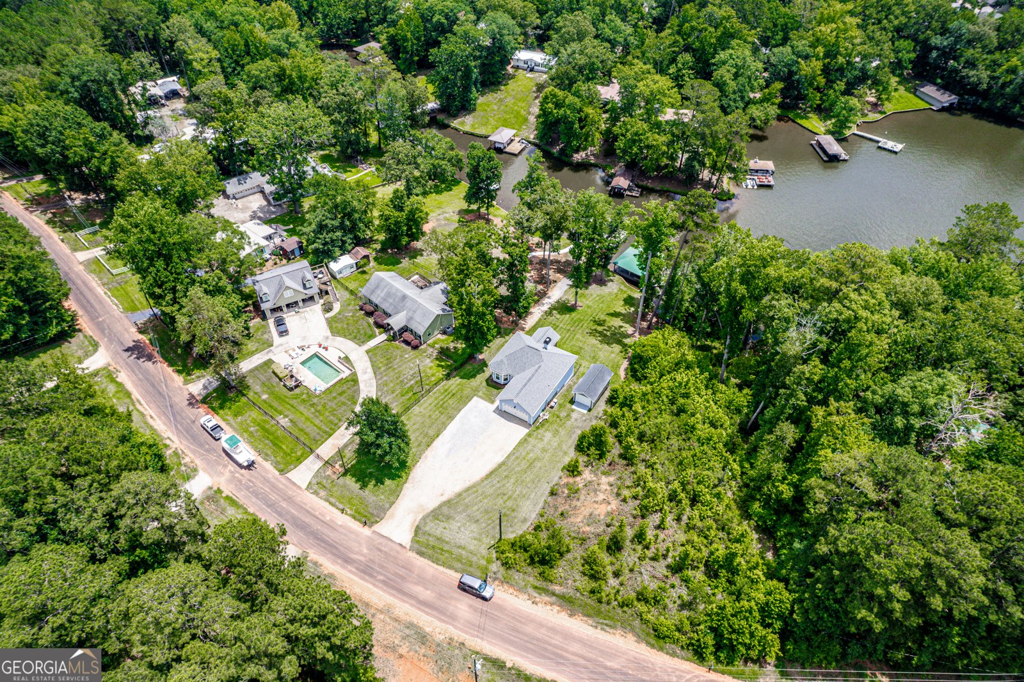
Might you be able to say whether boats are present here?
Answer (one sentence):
Yes, there is a boat in the image.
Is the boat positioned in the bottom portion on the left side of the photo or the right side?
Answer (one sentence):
It is on the left.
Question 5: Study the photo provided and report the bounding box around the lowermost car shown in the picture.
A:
[456,570,495,602]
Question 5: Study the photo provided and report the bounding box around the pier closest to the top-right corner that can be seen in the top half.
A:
[851,132,923,159]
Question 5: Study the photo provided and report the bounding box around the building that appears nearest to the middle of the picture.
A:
[487,326,583,425]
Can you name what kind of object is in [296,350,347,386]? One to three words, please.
swimming pool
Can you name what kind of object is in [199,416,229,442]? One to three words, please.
truck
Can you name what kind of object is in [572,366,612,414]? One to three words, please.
shed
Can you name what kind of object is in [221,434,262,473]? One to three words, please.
boat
